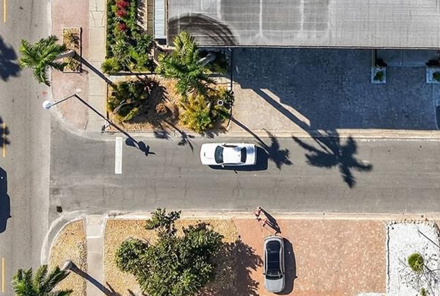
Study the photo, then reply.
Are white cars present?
Yes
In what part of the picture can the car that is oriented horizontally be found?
center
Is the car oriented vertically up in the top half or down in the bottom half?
bottom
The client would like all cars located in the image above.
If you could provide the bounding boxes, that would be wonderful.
[200,140,258,169]
[261,235,289,294]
